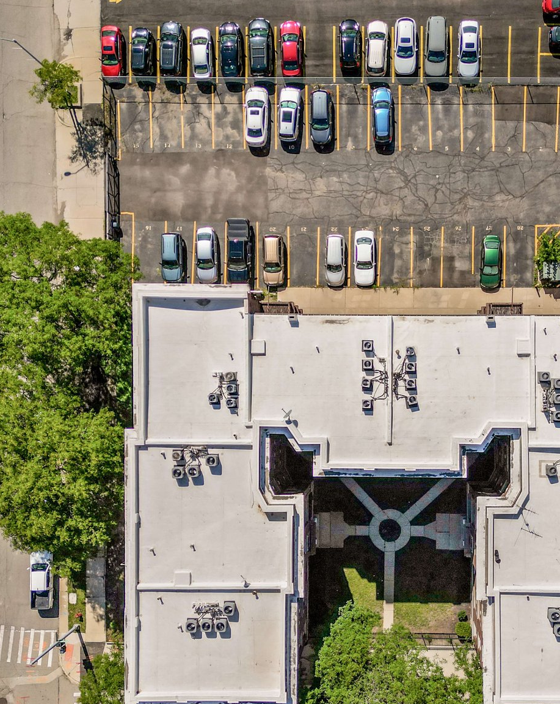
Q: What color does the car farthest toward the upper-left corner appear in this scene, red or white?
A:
red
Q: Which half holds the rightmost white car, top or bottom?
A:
top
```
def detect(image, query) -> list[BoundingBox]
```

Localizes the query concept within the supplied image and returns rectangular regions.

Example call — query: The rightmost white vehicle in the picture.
[456,19,482,79]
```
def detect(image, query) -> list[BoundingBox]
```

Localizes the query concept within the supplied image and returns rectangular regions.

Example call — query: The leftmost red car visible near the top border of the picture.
[97,25,125,78]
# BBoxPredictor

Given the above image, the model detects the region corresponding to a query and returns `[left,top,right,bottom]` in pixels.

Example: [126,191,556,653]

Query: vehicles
[158,232,186,282]
[192,227,219,283]
[278,21,303,78]
[215,21,243,79]
[276,86,302,142]
[370,86,396,144]
[423,13,451,78]
[25,549,55,610]
[157,21,186,78]
[478,235,504,289]
[549,26,560,52]
[363,19,391,79]
[392,15,420,77]
[129,28,155,77]
[97,25,125,78]
[323,234,347,287]
[542,0,560,21]
[260,234,285,285]
[243,86,269,147]
[337,19,363,73]
[456,19,482,79]
[245,17,274,78]
[308,87,333,146]
[223,217,252,283]
[352,229,378,285]
[189,29,214,79]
